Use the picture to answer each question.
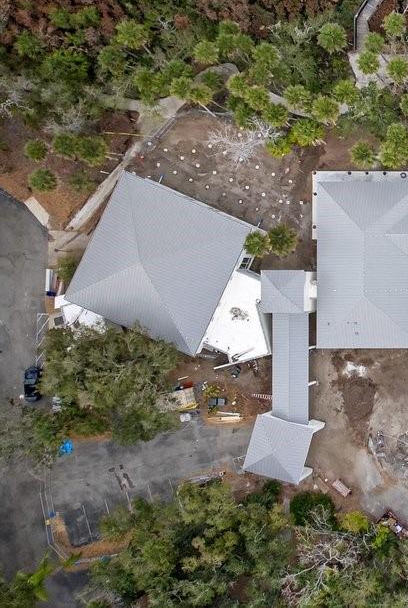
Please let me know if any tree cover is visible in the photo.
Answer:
Yes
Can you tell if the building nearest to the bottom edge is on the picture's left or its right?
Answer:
right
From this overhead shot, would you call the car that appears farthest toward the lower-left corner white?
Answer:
No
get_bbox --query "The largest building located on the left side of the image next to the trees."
[64,171,260,356]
